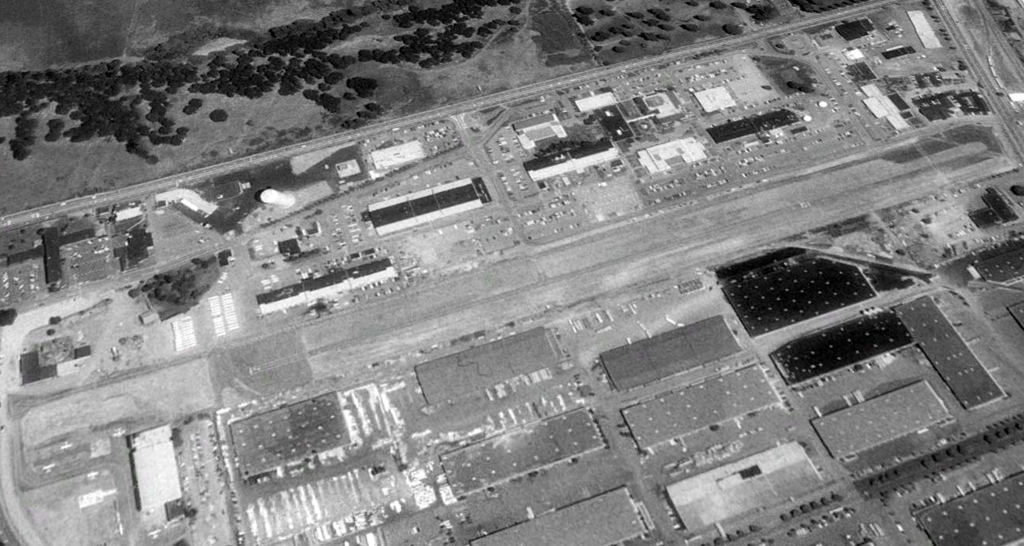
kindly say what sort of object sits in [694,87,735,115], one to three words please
building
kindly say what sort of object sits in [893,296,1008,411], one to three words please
warehouse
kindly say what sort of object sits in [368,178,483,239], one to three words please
hangar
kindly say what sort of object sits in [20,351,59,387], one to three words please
house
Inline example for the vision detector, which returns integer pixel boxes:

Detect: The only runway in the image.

[249,187,834,373]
